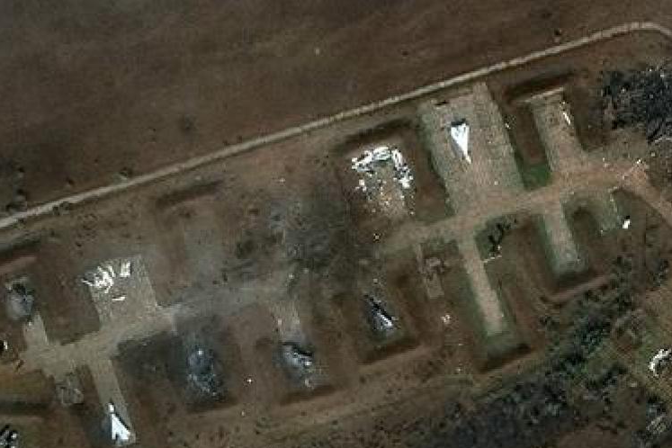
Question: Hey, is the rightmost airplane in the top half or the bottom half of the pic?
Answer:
top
